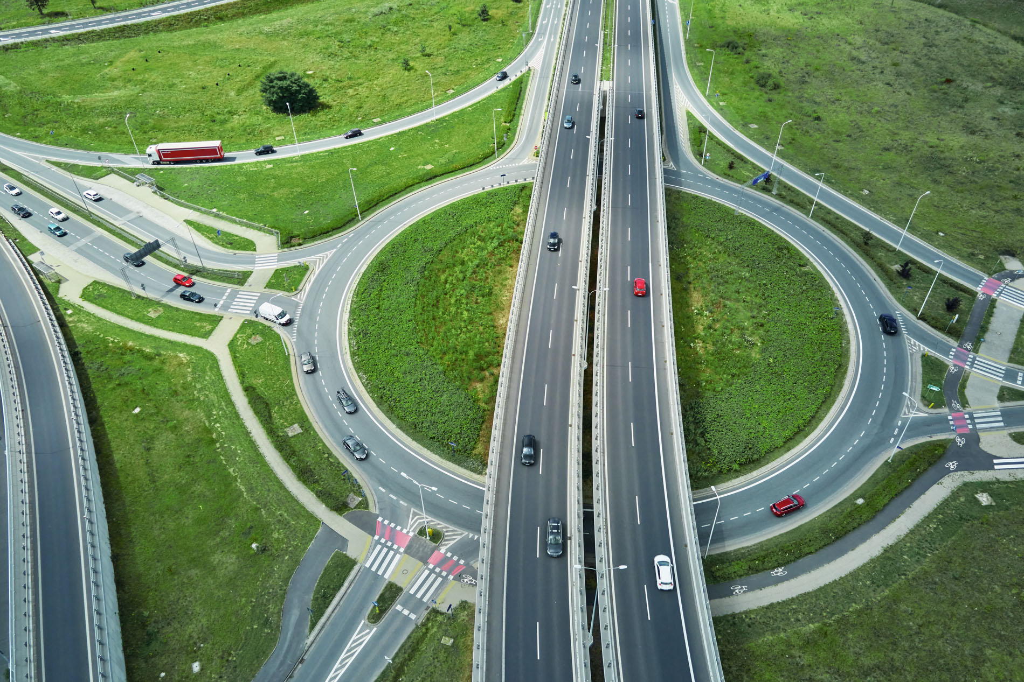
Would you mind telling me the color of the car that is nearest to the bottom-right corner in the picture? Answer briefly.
red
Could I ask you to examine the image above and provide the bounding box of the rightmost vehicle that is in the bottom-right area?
[770,495,807,516]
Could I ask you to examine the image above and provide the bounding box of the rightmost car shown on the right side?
[879,313,900,333]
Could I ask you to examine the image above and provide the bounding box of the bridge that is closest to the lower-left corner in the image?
[0,225,125,682]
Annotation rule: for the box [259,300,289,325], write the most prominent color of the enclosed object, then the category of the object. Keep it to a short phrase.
white vehicle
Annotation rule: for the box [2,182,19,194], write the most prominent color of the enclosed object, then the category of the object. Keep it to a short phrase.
white vehicle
